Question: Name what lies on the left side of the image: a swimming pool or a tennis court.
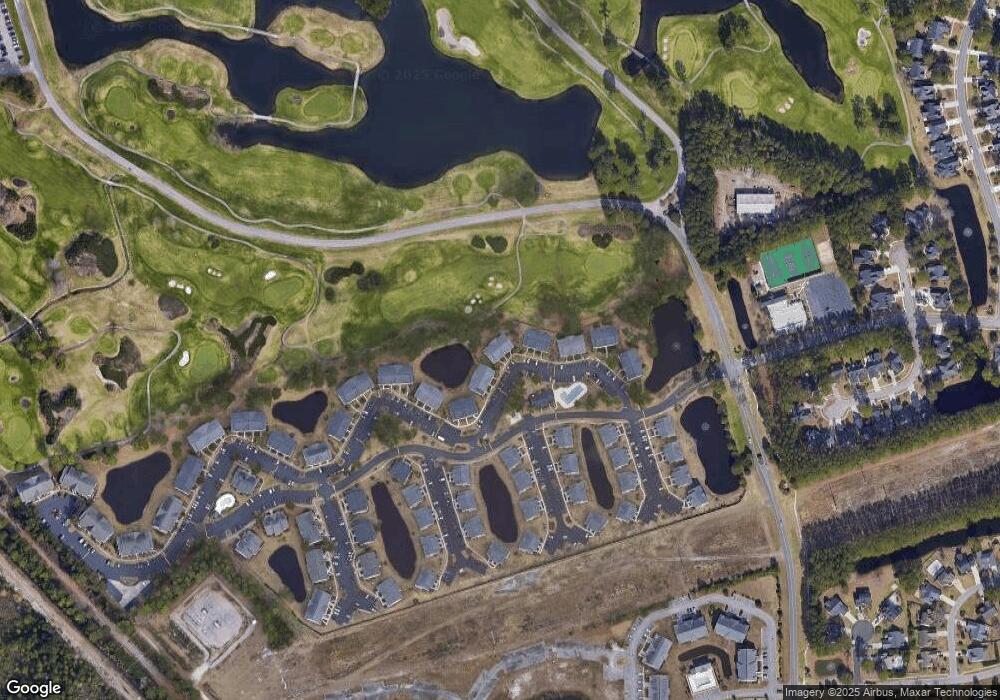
swimming pool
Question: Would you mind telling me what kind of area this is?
golf course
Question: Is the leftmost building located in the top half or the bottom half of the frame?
bottom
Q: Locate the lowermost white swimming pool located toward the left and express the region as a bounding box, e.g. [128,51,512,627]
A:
[216,493,235,513]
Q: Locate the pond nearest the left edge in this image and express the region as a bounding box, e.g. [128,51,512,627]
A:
[103,450,171,523]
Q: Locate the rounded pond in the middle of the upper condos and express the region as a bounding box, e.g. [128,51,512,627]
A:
[421,344,474,388]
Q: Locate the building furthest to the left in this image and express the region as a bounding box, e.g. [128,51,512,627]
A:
[16,471,55,503]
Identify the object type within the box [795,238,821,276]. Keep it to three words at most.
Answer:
tennis court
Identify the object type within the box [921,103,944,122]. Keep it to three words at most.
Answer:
house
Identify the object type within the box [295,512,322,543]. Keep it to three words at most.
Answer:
building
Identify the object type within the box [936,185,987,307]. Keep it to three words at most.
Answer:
pond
